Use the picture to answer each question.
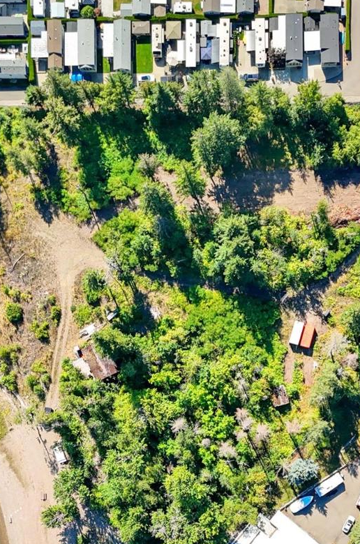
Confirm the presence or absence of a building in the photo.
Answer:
Yes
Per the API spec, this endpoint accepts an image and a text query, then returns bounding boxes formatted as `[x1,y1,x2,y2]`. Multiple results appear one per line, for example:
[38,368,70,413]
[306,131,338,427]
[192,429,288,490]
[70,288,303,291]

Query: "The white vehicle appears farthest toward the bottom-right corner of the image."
[340,513,356,533]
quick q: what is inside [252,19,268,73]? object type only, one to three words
camper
